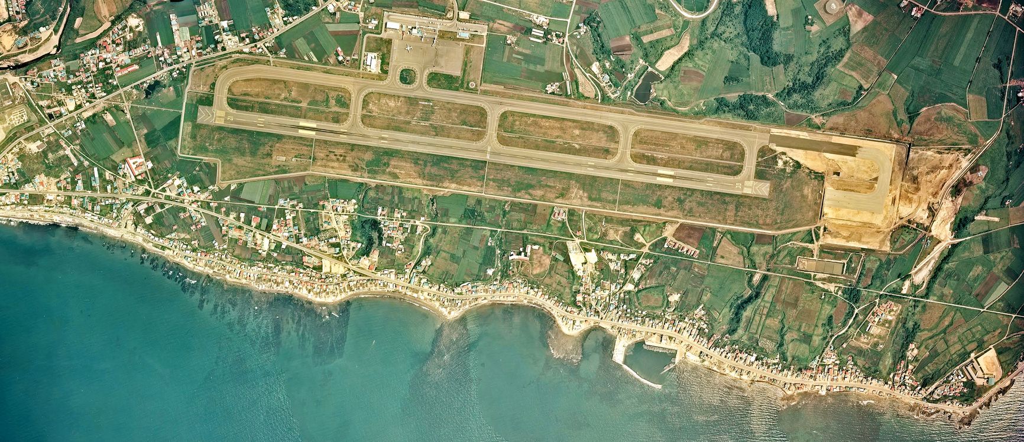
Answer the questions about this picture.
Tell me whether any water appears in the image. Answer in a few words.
Yes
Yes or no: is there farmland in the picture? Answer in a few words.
Yes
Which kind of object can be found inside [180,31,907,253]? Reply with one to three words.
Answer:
airport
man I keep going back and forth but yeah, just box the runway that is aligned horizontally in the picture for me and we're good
[197,105,771,199]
